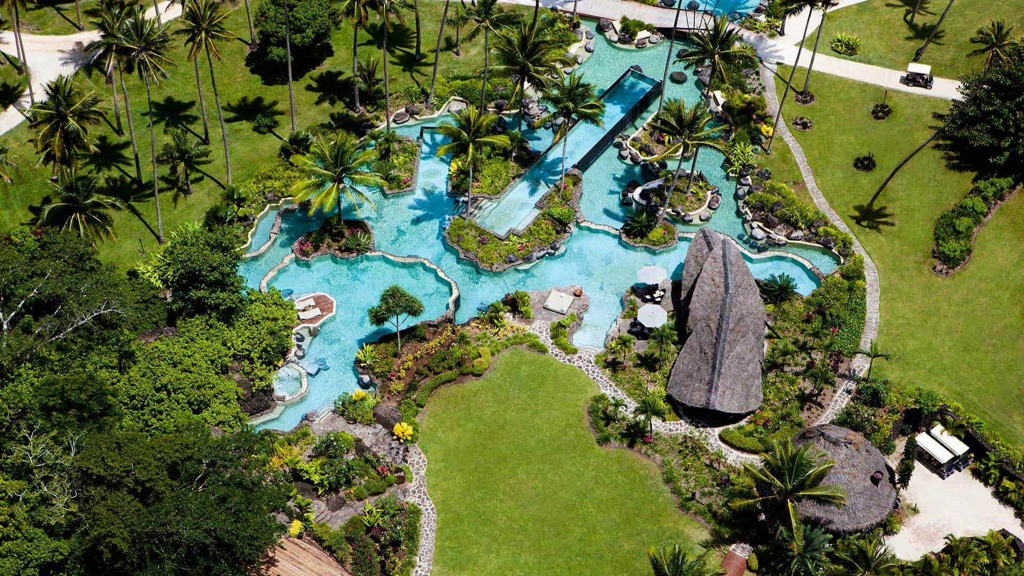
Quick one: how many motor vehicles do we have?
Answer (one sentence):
The count of motor vehicles comes to 3.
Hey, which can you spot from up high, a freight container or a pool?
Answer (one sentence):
Visible in the photo is a pool.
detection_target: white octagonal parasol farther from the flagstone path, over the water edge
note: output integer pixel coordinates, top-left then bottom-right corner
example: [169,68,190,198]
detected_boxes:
[636,262,668,293]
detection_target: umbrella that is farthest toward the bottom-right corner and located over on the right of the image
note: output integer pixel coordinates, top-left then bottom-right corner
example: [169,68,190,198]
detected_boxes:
[635,302,668,334]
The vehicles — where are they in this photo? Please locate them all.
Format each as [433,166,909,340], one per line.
[912,432,952,476]
[930,424,967,468]
[907,64,934,88]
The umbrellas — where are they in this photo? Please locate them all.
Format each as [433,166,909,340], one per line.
[635,302,668,334]
[636,262,668,293]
